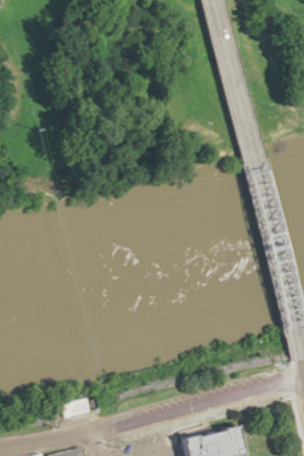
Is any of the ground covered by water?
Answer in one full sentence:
Yes, there is water in the image.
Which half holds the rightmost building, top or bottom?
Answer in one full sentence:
You can find the rightmost building in the bottom half.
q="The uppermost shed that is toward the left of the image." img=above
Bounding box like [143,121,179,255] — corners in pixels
[62,398,96,419]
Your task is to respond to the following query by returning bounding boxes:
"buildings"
[181,424,250,456]
[40,446,80,456]
[62,398,96,419]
